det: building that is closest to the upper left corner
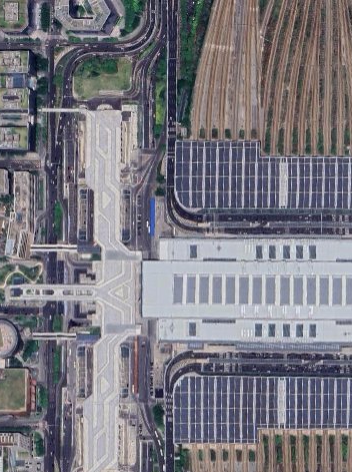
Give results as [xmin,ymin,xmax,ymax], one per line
[0,0,33,36]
